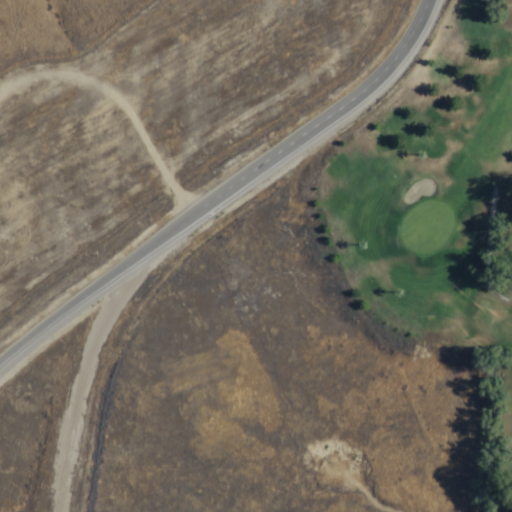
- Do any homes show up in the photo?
No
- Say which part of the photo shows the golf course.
right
